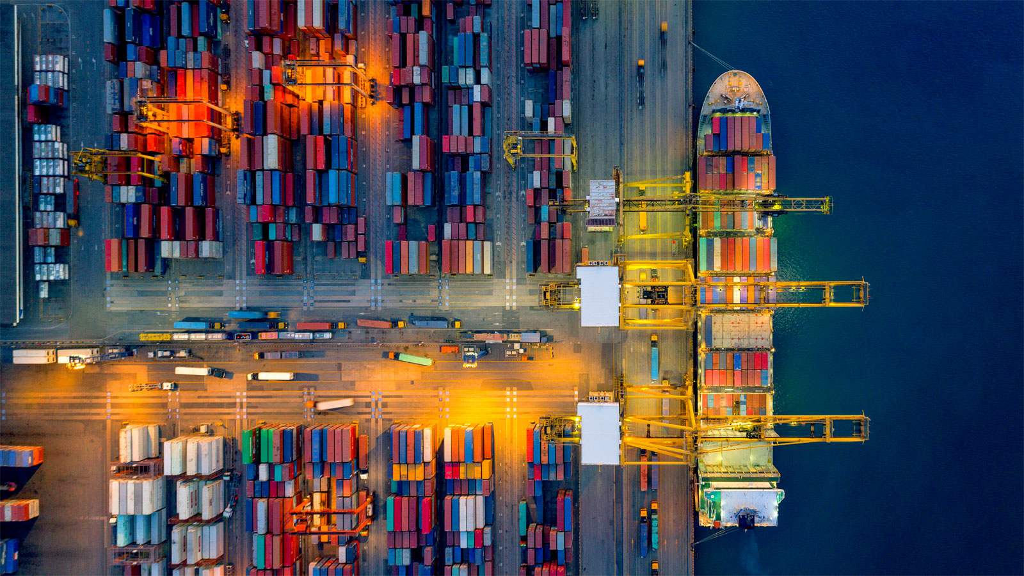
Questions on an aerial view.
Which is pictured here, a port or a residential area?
port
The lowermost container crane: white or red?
red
